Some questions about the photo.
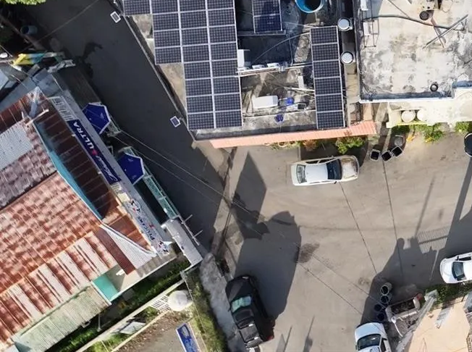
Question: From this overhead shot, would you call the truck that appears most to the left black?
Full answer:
Yes, black is the color of the truck that appears most to the left.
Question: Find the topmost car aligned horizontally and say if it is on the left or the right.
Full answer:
The topmost car aligned horizontally appears in the right half of the scene.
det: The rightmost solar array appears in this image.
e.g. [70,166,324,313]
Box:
[310,26,345,130]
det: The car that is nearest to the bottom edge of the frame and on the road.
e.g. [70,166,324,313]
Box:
[353,319,385,352]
